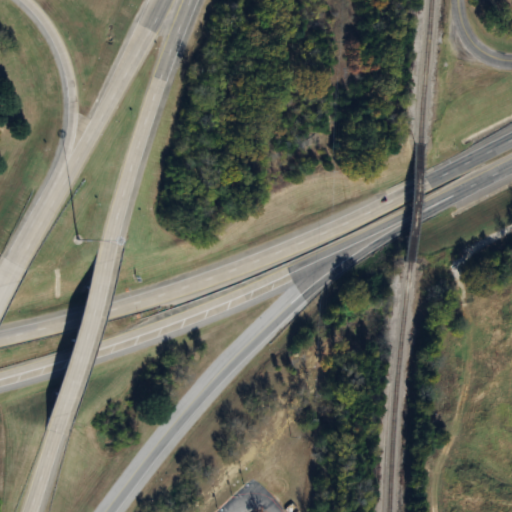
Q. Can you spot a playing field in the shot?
No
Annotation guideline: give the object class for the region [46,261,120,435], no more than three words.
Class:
overpass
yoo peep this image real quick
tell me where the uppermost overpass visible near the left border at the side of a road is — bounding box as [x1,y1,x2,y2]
[0,258,26,324]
